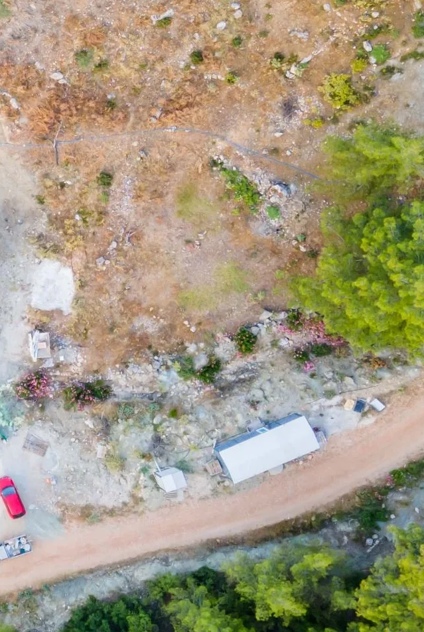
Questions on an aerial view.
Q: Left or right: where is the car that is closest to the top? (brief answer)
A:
left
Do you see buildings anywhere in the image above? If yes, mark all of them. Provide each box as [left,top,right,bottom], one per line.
[210,414,318,484]
[157,465,187,493]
